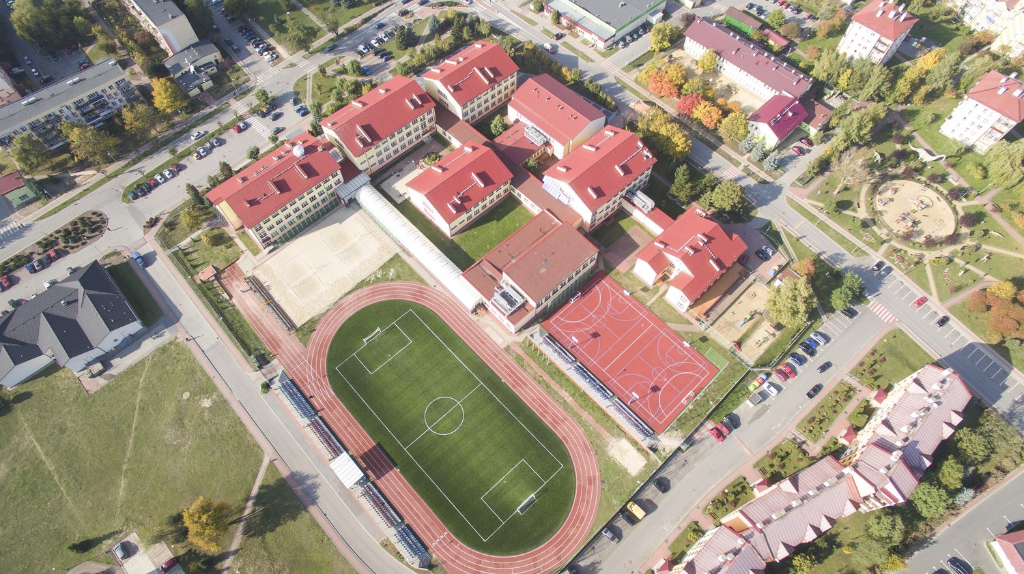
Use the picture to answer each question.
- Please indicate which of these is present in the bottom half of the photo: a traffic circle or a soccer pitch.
soccer pitch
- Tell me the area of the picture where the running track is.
bottom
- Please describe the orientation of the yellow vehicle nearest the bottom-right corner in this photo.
at an angle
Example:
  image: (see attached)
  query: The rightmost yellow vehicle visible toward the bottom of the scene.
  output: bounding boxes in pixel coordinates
[626,501,648,522]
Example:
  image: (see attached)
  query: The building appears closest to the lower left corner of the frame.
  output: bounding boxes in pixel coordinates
[0,260,144,386]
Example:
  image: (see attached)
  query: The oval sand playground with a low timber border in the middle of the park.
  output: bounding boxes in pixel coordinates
[875,178,958,242]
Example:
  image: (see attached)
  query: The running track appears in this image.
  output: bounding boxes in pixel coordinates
[210,261,600,574]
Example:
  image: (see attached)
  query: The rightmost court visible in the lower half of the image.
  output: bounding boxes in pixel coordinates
[540,269,721,436]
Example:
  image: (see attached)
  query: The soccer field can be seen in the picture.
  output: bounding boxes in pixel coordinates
[329,302,573,553]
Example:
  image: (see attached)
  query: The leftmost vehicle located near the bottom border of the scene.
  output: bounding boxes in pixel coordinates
[111,542,129,561]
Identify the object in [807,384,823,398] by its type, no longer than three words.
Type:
car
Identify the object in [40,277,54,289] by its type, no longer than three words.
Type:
vehicle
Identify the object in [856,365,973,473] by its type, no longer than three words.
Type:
house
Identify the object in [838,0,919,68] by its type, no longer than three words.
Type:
building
